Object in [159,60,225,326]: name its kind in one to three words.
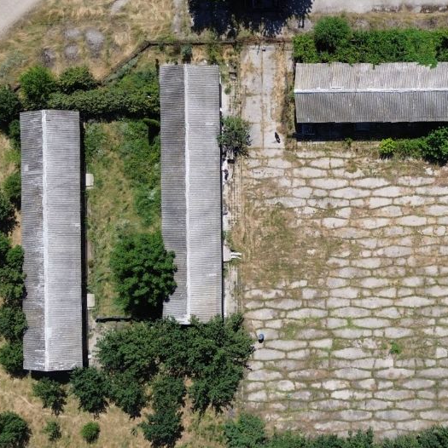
barn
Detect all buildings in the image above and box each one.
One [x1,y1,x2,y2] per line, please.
[19,108,91,374]
[294,61,448,123]
[159,60,225,326]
